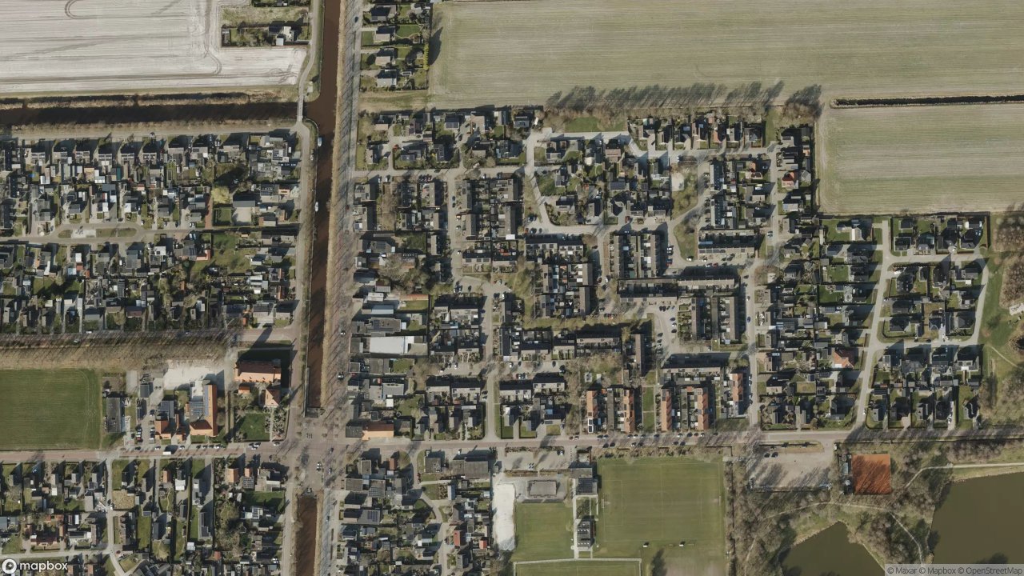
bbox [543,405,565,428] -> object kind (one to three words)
house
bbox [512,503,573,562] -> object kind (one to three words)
sports field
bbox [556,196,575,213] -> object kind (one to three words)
house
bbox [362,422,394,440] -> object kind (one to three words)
building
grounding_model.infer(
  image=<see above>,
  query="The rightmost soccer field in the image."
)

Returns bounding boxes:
[593,456,726,576]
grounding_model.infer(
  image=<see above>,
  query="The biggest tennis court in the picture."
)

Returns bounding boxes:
[852,453,892,495]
